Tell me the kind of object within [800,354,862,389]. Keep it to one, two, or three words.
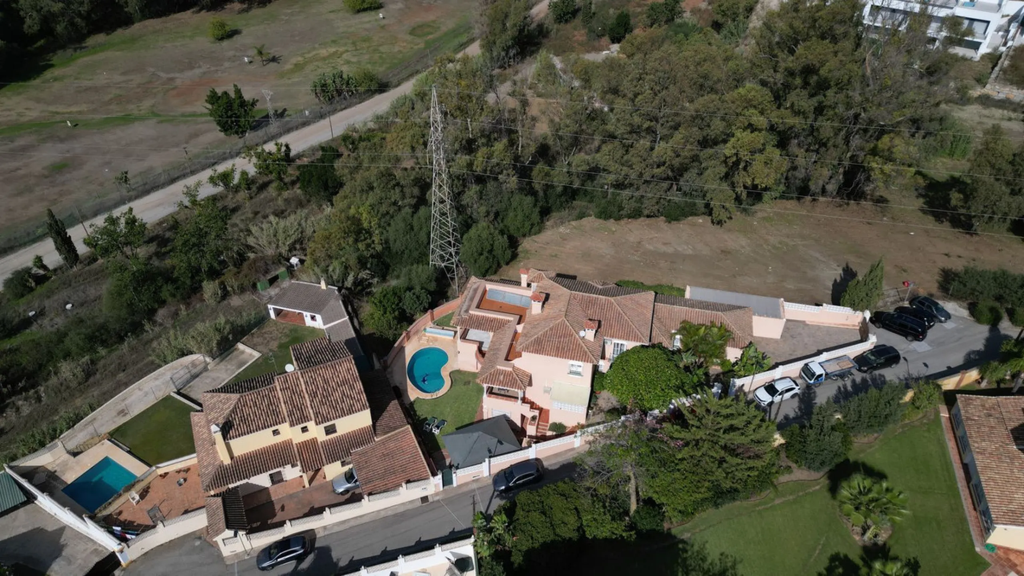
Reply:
truck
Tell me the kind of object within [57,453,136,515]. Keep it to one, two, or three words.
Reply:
swimming pool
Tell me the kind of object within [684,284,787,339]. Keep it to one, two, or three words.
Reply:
building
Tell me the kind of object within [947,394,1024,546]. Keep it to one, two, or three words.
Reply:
house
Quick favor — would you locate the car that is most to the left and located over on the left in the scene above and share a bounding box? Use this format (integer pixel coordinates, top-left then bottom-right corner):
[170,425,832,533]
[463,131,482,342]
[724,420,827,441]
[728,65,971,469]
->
[253,527,314,569]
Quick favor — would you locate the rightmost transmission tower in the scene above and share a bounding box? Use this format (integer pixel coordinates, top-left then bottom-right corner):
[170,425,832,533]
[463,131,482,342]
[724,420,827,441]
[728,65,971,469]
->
[429,83,468,294]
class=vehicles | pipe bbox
[327,465,361,496]
[800,354,862,389]
[755,371,806,405]
[868,309,936,344]
[855,343,906,375]
[906,288,960,323]
[253,527,314,569]
[491,455,548,492]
